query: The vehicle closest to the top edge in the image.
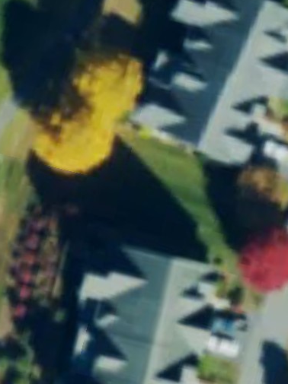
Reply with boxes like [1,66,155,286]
[264,140,288,162]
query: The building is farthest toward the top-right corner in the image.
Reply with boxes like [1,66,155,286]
[134,0,288,170]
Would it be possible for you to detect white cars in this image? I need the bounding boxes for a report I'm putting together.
[264,140,288,162]
[211,338,239,354]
